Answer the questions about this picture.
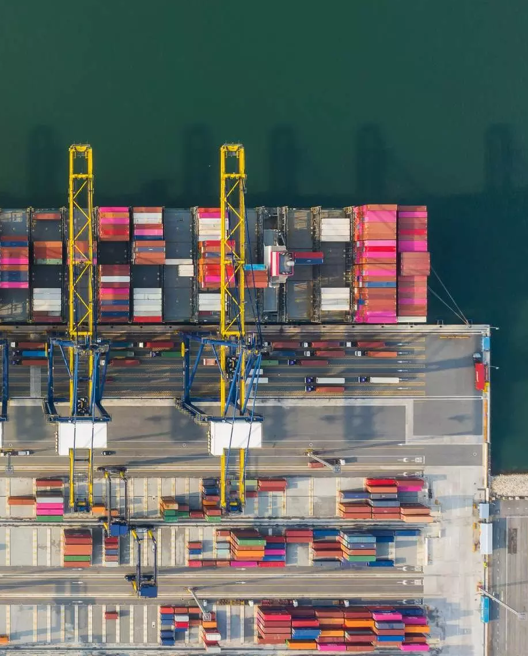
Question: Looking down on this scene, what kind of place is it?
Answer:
port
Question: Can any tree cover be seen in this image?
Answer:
No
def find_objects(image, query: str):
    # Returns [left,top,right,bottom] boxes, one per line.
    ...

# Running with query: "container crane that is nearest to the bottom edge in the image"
[126,525,159,600]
